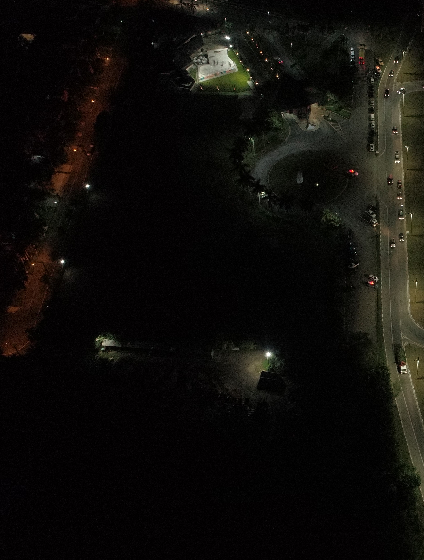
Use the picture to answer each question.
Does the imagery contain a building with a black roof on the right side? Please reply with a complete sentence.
Yes, you'll find a building with a black roof on the right side.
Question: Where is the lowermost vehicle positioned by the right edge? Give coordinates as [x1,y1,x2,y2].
[396,345,409,377]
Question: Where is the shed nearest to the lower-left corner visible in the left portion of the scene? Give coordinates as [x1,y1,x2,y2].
[100,339,160,355]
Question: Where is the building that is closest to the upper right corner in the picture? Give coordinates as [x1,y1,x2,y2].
[271,78,319,127]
